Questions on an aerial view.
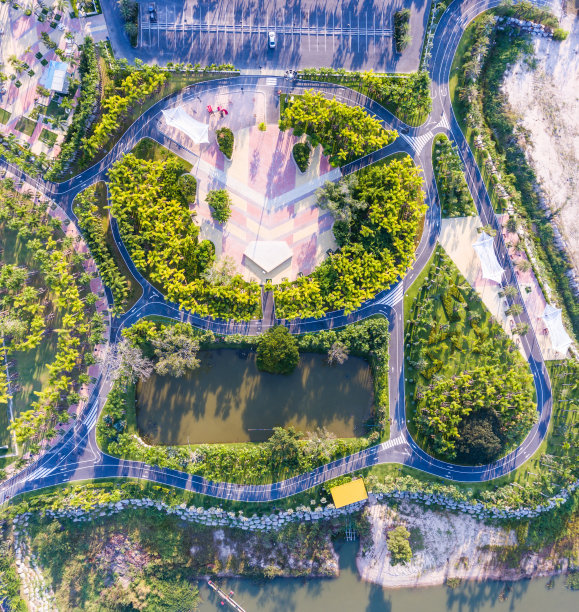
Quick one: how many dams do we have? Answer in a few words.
0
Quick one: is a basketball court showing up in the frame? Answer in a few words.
No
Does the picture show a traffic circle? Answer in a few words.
No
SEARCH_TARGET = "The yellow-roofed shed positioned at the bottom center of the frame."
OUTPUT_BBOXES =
[330,476,368,508]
